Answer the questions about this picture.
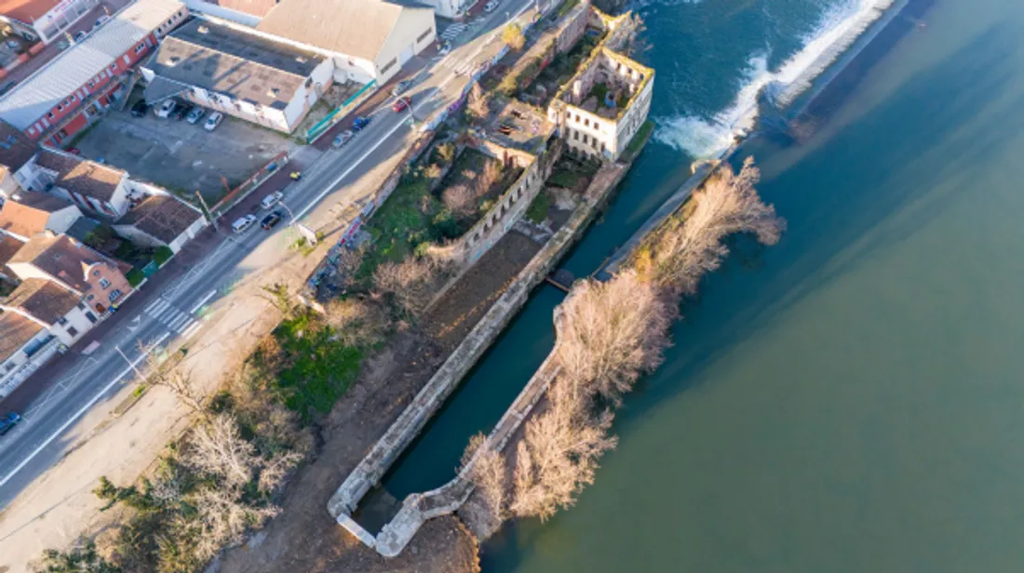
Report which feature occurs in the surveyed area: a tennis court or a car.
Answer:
car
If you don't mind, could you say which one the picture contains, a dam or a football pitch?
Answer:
dam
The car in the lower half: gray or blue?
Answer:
blue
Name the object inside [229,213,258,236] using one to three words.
vehicle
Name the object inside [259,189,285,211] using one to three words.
car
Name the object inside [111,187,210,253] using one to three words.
house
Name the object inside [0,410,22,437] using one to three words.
car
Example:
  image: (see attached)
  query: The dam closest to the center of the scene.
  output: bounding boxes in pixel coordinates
[593,159,723,288]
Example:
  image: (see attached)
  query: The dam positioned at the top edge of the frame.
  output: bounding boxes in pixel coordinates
[715,0,908,151]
